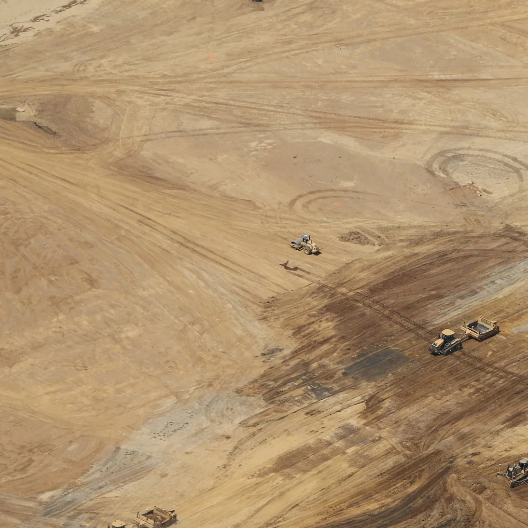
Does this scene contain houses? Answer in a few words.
No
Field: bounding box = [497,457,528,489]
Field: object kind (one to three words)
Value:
work vehicle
